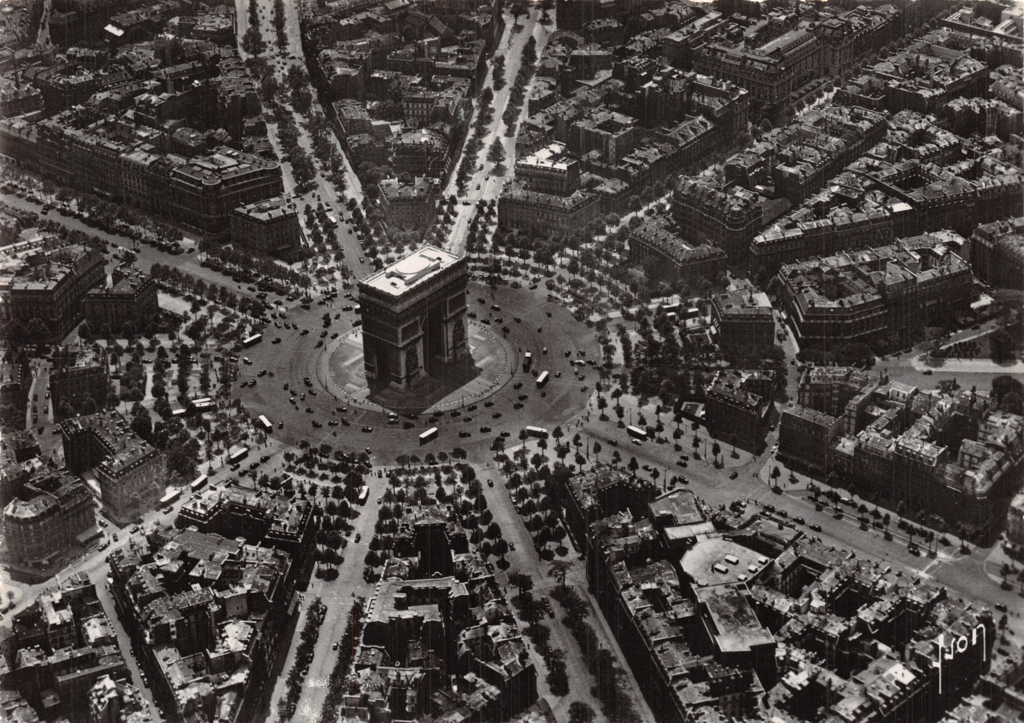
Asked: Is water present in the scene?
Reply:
No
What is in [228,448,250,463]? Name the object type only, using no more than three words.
vehicle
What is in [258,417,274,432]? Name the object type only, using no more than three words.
vehicle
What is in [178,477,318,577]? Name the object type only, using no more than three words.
house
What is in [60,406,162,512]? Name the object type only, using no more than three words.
house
